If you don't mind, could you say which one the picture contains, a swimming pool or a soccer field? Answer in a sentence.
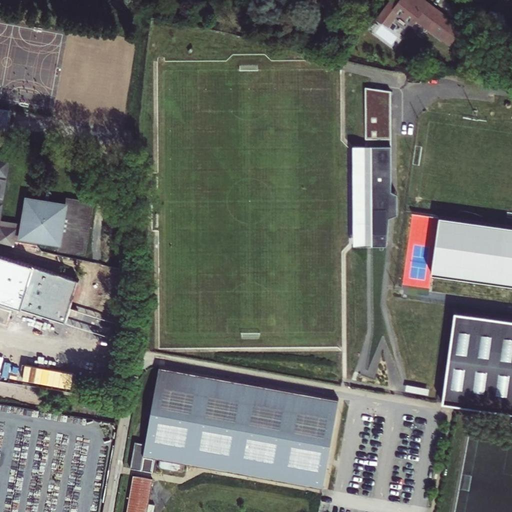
The one in the frame is a soccer field.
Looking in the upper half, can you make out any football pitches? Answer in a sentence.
Yes, a football pitch is visible in the upper half.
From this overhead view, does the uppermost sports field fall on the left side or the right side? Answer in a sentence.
It is on the left.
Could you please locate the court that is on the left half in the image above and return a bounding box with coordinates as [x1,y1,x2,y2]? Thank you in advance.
[0,22,64,106]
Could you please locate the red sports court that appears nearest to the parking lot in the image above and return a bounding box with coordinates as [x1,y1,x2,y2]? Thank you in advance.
[402,214,438,289]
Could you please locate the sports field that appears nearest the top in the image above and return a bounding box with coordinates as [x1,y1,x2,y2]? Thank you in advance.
[54,34,134,120]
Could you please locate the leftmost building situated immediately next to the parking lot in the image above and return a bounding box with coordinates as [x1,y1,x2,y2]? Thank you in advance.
[142,370,338,491]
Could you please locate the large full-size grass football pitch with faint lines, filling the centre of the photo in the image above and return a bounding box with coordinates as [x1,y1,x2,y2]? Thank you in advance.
[158,62,341,348]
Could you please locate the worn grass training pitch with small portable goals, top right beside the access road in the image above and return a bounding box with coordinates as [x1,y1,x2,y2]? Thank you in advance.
[412,102,512,214]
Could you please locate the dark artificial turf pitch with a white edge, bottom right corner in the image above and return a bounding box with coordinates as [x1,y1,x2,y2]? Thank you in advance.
[456,436,512,512]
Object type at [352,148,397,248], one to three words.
building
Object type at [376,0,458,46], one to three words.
house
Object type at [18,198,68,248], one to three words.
house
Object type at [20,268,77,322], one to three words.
building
